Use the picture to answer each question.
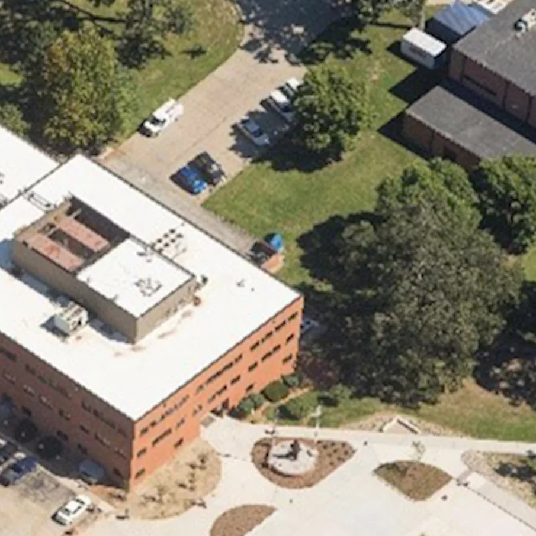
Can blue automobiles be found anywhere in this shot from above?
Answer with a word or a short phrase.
Yes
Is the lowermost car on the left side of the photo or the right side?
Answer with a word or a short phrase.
left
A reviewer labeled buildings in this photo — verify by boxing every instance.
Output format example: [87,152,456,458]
[402,0,536,172]
[0,125,302,492]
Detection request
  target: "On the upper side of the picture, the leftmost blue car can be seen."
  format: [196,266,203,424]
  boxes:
[174,165,210,193]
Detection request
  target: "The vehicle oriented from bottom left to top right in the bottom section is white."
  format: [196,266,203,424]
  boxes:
[54,495,93,527]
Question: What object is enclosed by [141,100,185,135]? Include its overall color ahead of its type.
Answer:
white truck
